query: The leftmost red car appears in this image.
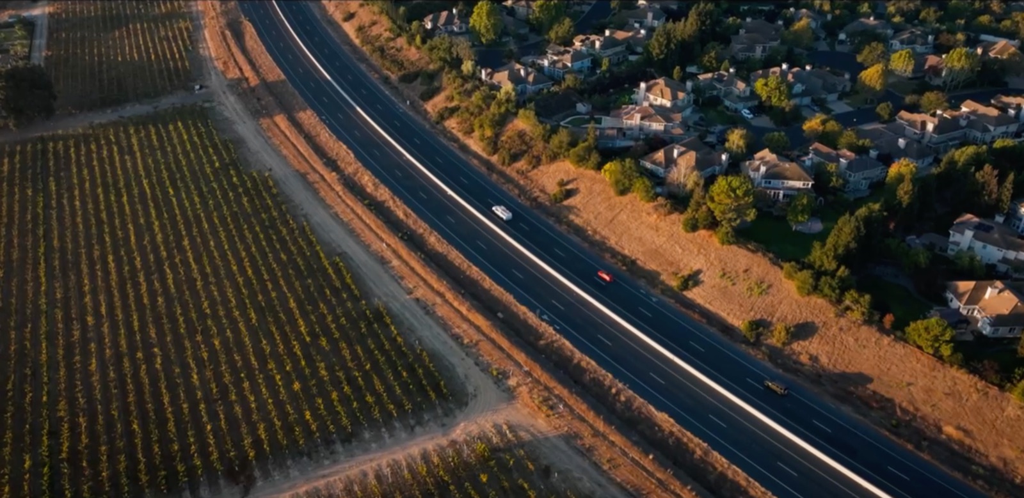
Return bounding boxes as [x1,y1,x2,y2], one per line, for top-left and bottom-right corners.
[596,270,615,283]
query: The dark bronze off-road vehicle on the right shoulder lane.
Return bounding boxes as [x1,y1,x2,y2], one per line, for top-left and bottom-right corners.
[762,379,789,398]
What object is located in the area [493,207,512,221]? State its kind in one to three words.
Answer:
car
